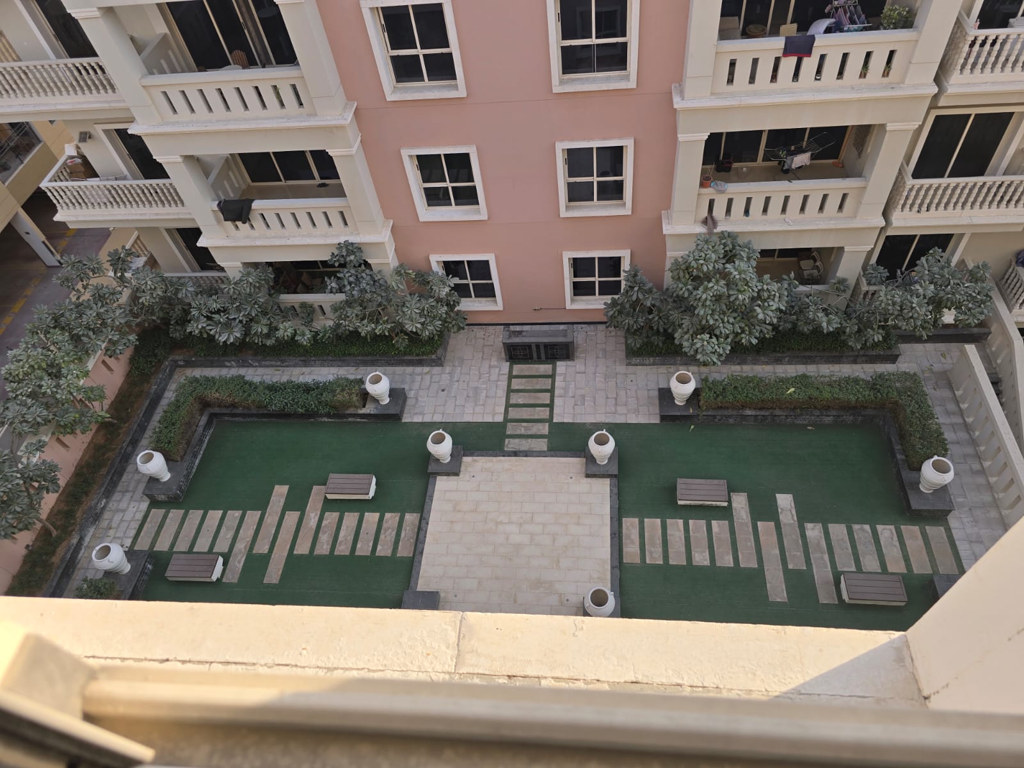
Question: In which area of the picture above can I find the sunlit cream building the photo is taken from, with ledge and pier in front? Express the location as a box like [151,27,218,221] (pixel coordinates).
[0,597,1015,715]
